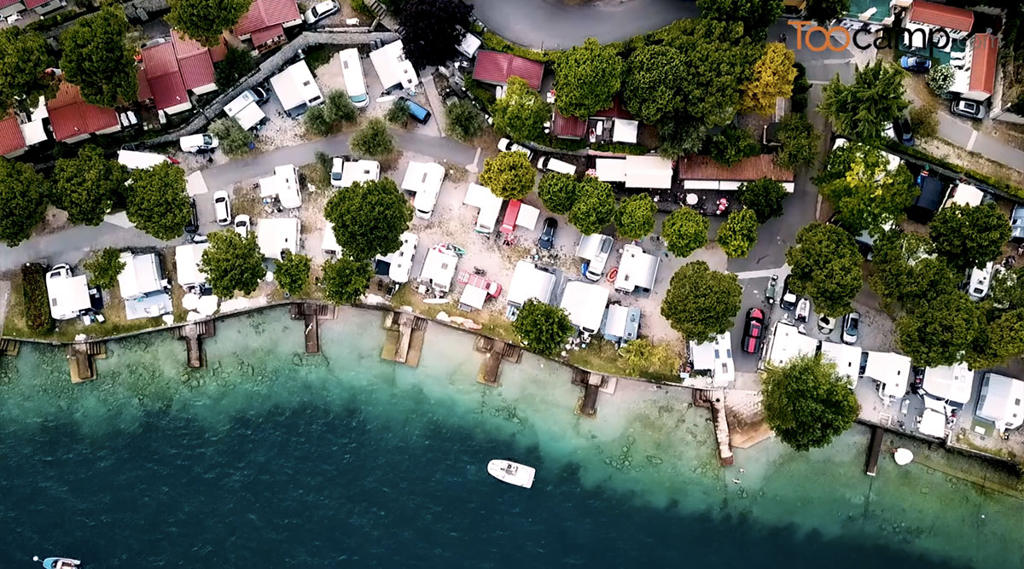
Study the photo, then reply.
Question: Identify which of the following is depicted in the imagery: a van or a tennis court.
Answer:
van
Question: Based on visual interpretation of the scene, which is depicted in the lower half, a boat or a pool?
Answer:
boat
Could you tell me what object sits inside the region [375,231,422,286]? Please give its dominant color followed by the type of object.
white camper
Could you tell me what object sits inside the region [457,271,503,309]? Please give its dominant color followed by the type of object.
white van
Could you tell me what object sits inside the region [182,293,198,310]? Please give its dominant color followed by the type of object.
white umbrella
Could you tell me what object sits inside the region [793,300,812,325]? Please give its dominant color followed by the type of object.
white boat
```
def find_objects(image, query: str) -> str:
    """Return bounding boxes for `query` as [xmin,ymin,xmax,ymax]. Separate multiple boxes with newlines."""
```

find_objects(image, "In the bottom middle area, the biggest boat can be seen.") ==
[487,460,538,490]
